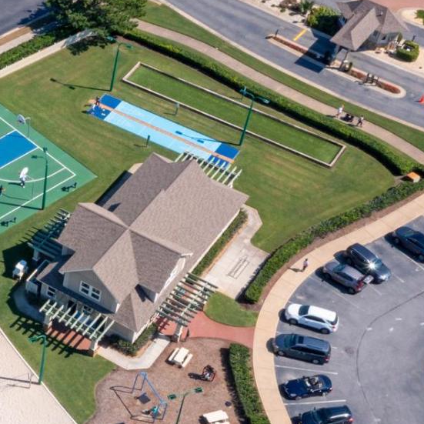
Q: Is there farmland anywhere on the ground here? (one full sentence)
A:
No, farmland can't be seen anywhere here.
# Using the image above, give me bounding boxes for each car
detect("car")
[344,243,393,281]
[272,332,331,364]
[284,376,338,401]
[393,227,424,261]
[298,404,358,424]
[323,261,380,295]
[286,304,341,334]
